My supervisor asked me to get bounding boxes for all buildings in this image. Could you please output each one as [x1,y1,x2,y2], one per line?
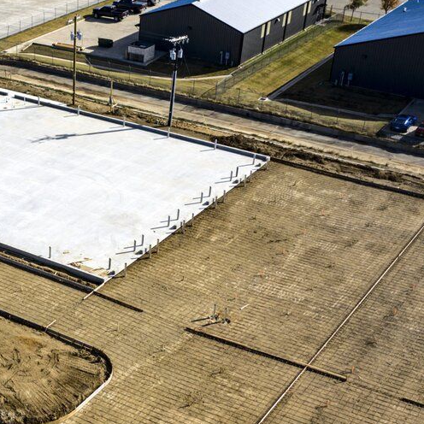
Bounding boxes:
[127,0,334,65]
[328,0,424,99]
